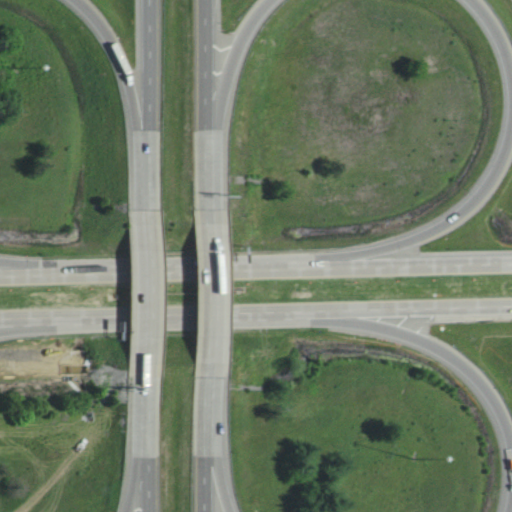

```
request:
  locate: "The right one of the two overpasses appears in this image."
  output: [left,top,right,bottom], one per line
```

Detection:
[194,210,234,378]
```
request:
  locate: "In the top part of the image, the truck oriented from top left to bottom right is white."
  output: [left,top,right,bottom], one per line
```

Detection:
[107,42,133,82]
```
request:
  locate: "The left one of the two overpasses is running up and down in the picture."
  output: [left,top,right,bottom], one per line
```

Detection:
[128,210,167,378]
